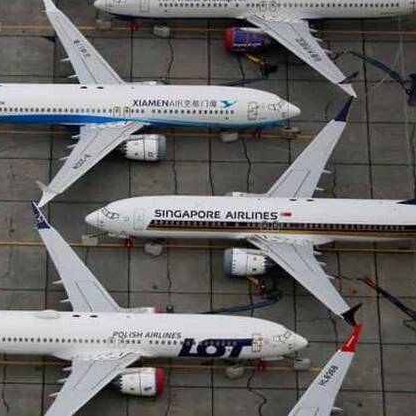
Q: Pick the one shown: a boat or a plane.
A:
plane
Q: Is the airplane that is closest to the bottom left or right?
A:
right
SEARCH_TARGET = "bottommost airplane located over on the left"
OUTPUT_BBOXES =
[0,202,308,416]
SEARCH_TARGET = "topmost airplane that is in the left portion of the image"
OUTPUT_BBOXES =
[0,0,301,205]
